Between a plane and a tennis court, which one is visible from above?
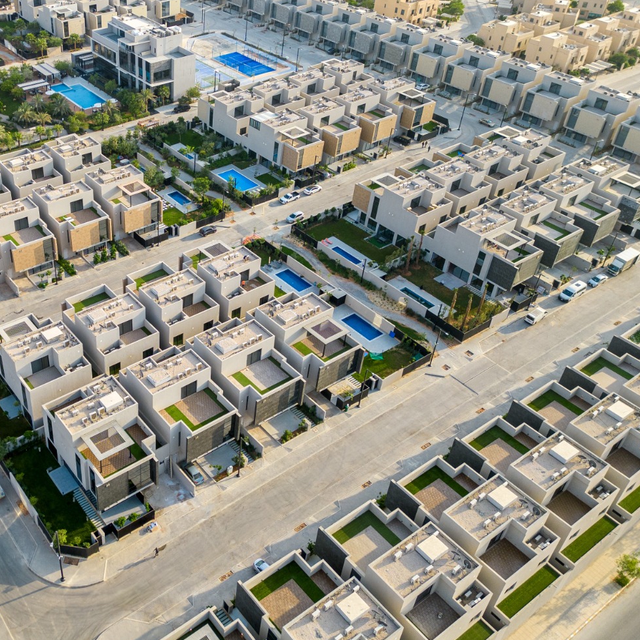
tennis court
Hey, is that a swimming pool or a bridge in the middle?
swimming pool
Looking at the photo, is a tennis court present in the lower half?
No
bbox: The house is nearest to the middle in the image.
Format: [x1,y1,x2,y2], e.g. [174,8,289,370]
[246,292,367,396]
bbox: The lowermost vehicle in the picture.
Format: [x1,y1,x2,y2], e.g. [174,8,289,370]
[243,555,271,573]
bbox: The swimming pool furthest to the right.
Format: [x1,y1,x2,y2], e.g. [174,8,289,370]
[392,281,439,310]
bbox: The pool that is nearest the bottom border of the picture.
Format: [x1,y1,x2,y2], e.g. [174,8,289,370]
[340,311,386,342]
